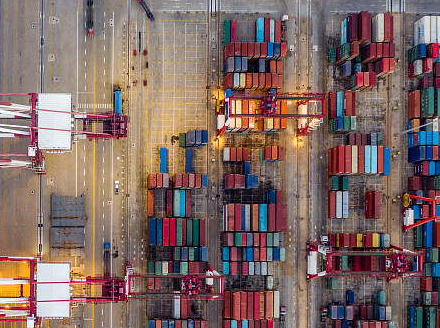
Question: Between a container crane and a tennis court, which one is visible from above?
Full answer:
This aerial view contains a container crane.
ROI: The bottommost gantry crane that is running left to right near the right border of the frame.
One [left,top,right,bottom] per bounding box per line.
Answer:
[302,237,424,286]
